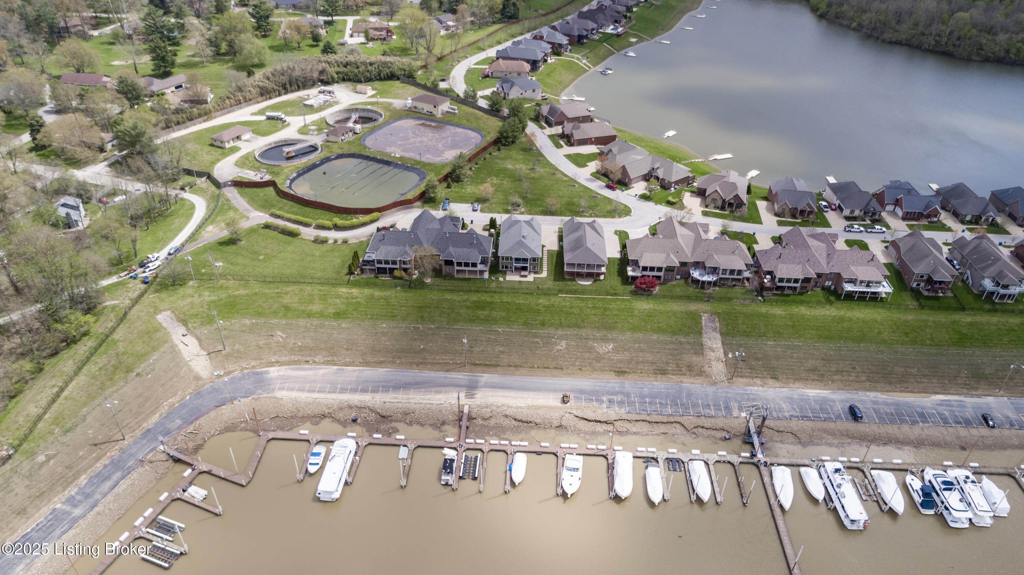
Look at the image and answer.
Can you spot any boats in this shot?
Yes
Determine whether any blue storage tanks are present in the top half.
No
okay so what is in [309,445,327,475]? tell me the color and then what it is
white boat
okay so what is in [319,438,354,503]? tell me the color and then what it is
white boat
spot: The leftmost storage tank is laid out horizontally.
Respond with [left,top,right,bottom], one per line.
[254,137,321,167]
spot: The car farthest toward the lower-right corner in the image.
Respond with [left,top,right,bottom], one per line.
[982,410,999,426]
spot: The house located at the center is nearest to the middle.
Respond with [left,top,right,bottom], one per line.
[498,215,543,272]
